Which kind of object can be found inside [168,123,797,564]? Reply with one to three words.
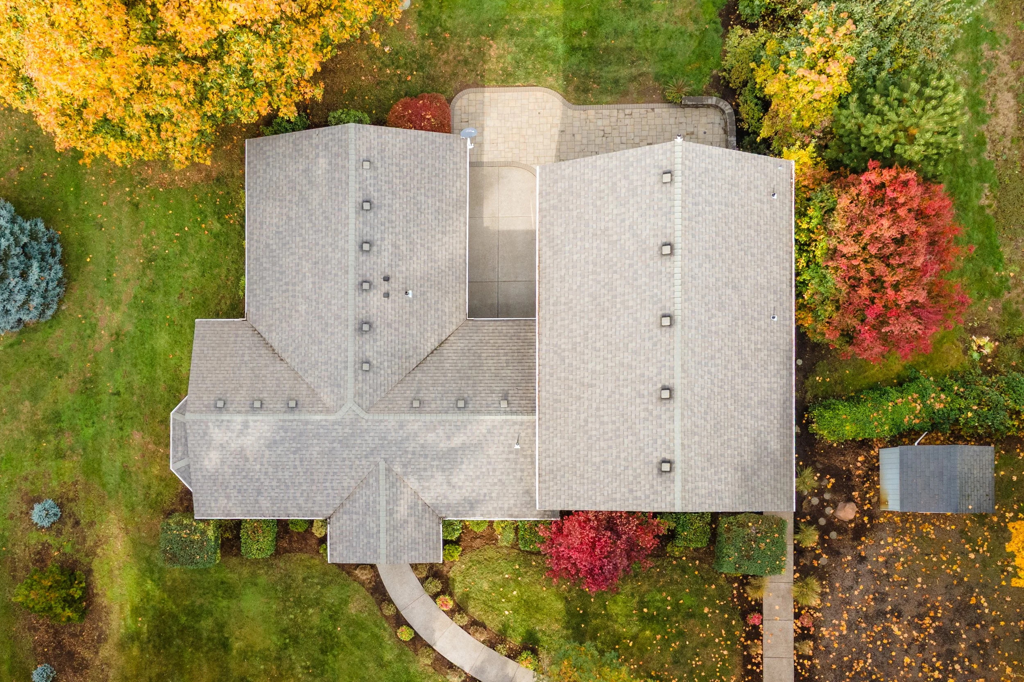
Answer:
house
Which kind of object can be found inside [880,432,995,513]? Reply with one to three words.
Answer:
shed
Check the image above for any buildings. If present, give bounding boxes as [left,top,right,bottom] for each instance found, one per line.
[168,123,797,564]
[880,432,995,513]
